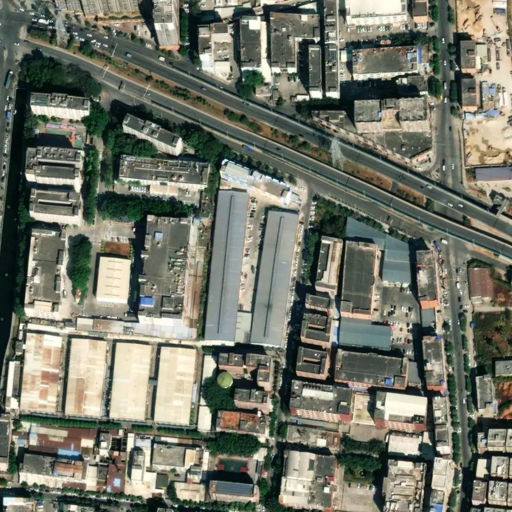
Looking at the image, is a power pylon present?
Yes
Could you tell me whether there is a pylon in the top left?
Yes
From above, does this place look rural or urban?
urban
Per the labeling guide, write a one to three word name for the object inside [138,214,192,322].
building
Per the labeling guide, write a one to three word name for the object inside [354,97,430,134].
building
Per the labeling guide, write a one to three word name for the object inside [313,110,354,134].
house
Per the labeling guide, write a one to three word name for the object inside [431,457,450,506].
house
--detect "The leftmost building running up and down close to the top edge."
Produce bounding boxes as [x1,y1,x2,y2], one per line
[152,0,180,51]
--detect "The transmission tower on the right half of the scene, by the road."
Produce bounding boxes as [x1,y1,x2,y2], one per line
[327,140,344,172]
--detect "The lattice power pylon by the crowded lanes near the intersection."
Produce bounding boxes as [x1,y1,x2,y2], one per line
[51,19,68,50]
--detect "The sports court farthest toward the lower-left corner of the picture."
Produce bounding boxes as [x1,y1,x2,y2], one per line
[213,456,252,484]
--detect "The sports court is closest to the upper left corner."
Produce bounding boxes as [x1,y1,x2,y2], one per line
[44,122,84,150]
